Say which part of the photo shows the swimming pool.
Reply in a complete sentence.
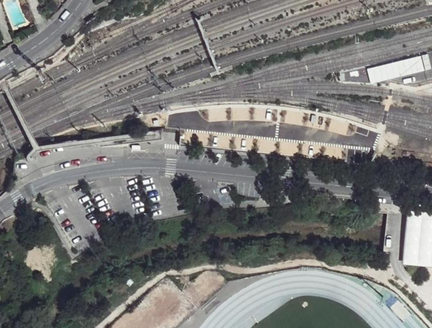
The swimming pool sits in the top left section of the image.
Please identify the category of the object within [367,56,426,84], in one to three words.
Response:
shed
